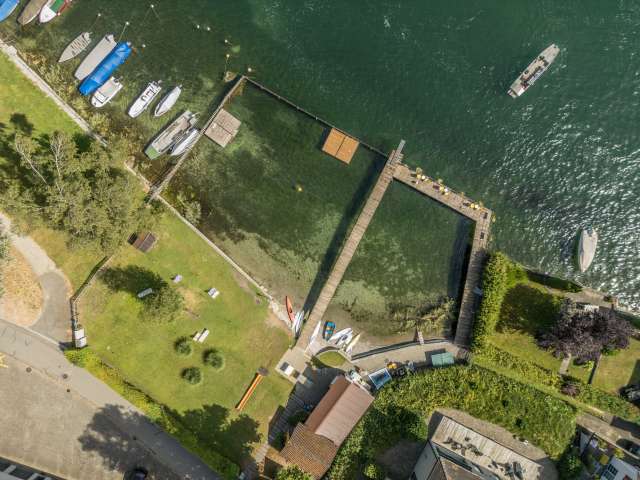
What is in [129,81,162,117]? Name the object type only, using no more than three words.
boat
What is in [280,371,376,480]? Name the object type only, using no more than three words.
shed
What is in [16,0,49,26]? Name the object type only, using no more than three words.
boat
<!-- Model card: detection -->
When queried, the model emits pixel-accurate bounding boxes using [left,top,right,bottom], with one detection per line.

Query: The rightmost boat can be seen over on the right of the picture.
[578,227,598,272]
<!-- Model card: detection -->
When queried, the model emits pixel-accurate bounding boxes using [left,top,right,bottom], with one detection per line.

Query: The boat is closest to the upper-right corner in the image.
[505,42,559,100]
